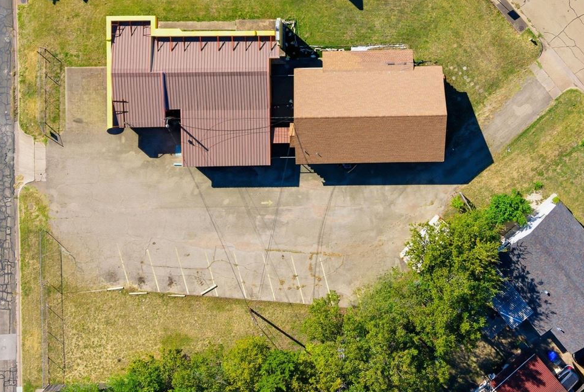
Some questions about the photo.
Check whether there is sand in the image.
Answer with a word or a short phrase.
No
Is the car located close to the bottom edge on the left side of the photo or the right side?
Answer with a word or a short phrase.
right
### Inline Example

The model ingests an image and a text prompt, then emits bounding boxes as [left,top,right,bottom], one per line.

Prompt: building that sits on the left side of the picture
[105,16,279,167]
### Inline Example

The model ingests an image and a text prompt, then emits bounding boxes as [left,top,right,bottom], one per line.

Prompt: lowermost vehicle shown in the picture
[556,356,584,392]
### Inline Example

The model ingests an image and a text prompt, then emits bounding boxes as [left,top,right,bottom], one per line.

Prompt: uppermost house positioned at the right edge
[493,202,584,355]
